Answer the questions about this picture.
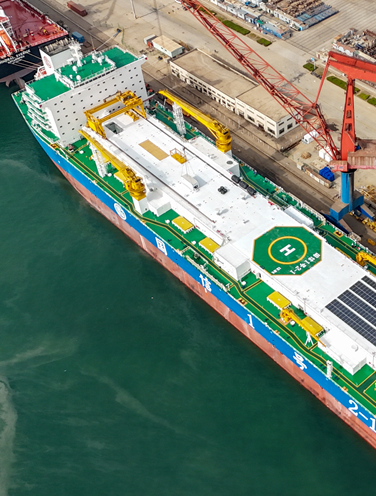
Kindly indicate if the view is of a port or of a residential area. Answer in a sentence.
It's a port.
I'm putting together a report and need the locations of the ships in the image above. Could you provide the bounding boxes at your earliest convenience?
[12,36,376,446]
[0,0,64,90]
